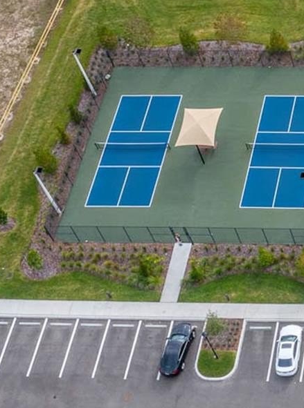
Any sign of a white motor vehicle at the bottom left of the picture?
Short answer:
No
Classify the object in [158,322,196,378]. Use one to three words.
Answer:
car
